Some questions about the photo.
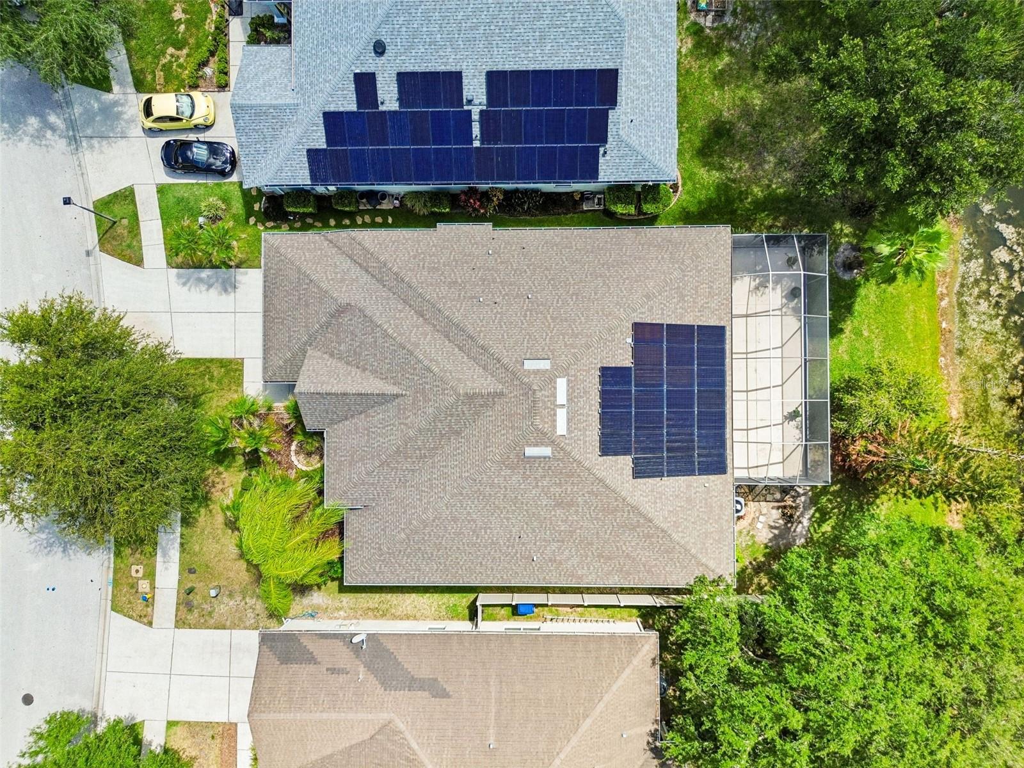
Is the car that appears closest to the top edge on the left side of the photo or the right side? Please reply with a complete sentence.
The car that appears closest to the top edge is on the left side of the image.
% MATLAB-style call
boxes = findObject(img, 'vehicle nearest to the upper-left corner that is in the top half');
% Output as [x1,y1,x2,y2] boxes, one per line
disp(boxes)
[138,87,216,128]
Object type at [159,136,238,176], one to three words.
car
